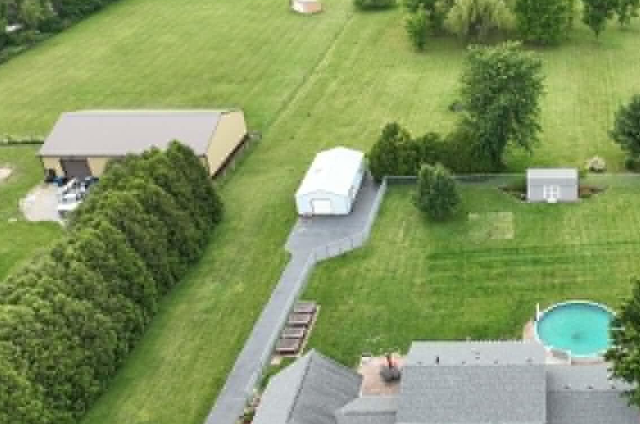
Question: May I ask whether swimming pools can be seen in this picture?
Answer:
Yes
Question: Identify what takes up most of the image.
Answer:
grass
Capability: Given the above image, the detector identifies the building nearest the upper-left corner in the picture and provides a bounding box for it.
[32,110,239,176]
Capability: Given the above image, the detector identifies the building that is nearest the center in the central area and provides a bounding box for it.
[293,128,374,215]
